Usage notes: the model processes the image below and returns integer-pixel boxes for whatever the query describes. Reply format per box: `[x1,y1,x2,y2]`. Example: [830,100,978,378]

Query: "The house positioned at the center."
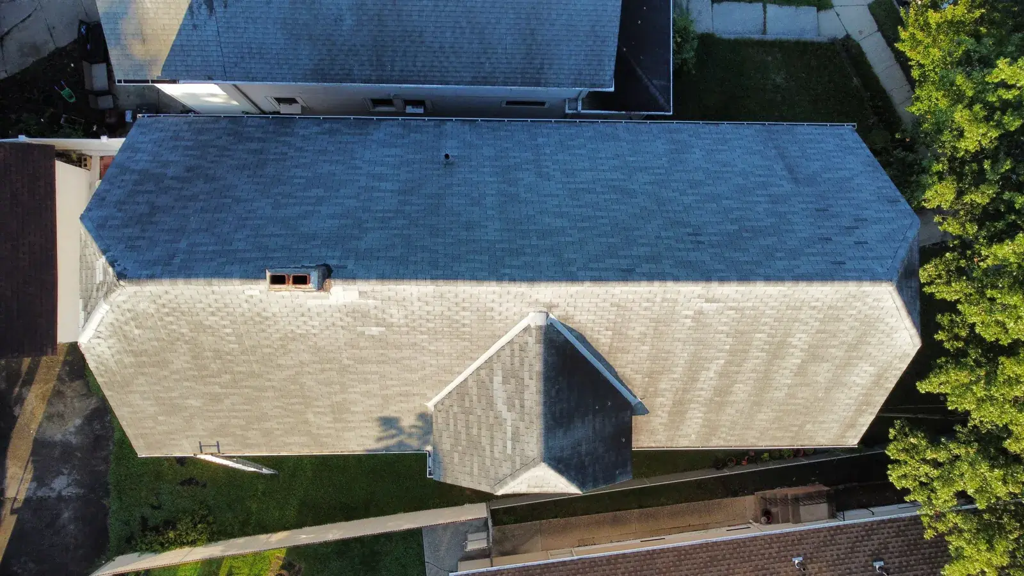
[75,114,923,497]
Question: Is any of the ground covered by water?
No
